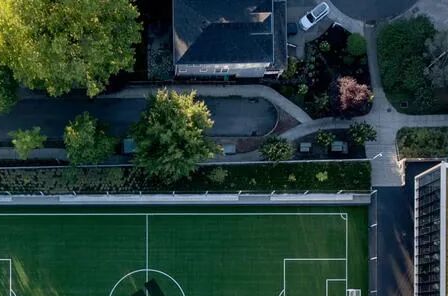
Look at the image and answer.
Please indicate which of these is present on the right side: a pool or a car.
car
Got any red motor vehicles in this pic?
No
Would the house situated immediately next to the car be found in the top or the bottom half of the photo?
top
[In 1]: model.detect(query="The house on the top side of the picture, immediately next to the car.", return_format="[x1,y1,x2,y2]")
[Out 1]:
[172,0,288,85]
